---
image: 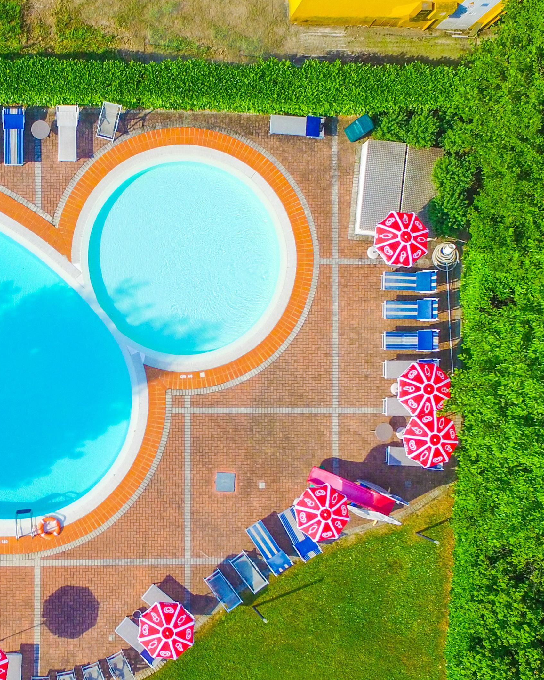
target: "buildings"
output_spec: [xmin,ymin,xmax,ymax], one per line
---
[291,0,520,39]
[355,140,445,239]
